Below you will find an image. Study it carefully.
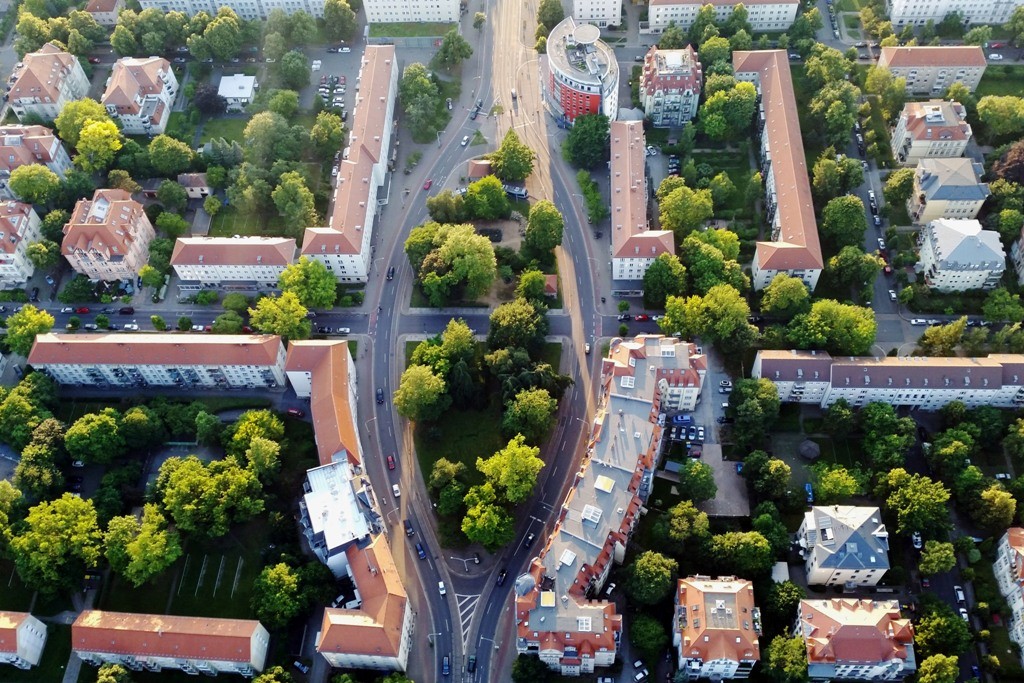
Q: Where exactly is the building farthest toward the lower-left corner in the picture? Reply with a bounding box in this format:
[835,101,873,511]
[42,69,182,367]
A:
[0,612,46,661]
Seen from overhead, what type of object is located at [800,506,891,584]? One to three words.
house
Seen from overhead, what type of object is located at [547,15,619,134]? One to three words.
building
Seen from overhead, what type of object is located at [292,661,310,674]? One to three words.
vehicle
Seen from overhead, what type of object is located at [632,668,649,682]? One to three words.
car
